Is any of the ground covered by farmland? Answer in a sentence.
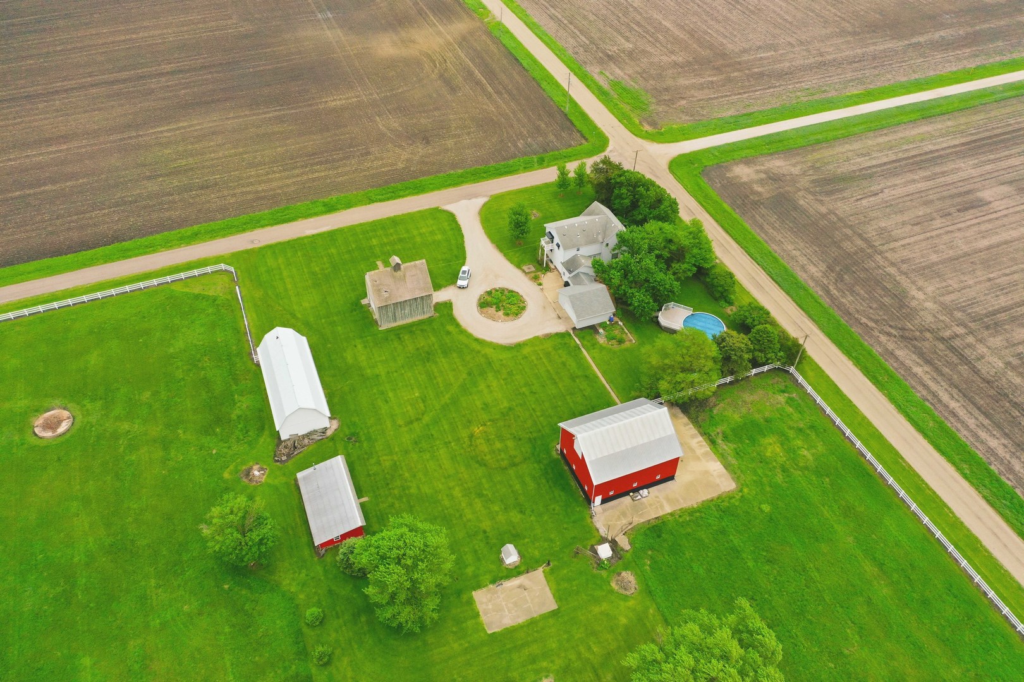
Yes, some farmland is visible.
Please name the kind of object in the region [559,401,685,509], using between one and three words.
barn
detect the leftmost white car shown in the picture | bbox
[458,265,471,286]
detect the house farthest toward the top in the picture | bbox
[539,201,632,288]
